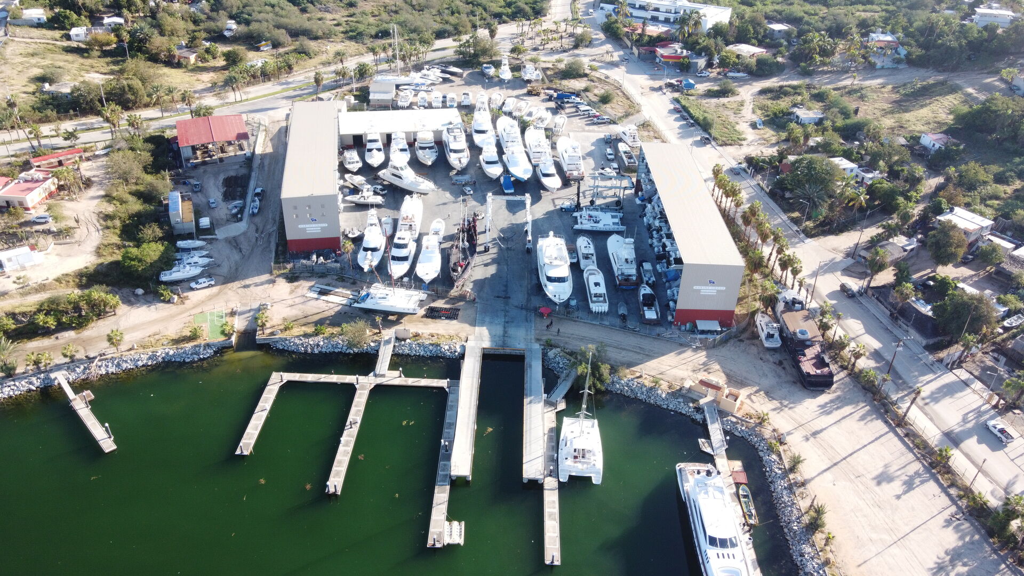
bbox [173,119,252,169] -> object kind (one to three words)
shed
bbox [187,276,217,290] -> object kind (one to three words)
vehicle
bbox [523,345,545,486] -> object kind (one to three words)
pier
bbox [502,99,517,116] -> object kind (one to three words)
boat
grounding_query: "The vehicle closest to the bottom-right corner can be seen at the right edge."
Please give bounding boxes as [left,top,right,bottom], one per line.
[984,422,1022,446]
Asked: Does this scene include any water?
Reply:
Yes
